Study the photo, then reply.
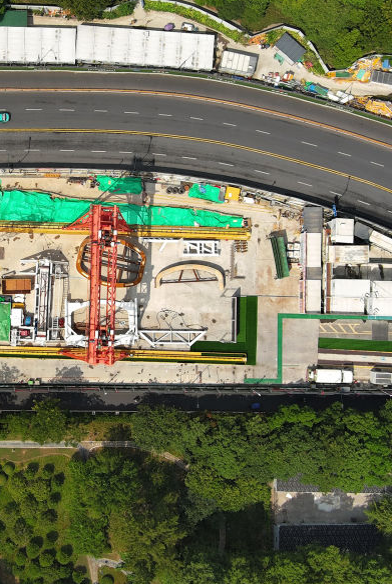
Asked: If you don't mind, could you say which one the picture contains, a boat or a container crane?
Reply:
container crane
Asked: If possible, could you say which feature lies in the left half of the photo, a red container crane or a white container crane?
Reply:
red container crane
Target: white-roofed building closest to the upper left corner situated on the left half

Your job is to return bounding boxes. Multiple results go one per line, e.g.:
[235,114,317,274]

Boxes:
[0,26,76,66]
